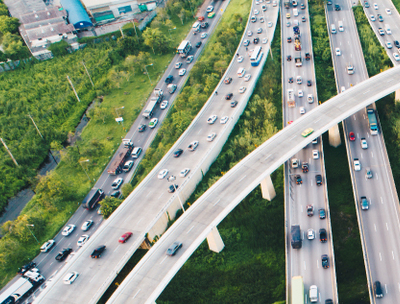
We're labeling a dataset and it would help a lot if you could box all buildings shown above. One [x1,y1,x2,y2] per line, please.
[2,0,75,59]
[82,0,155,29]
